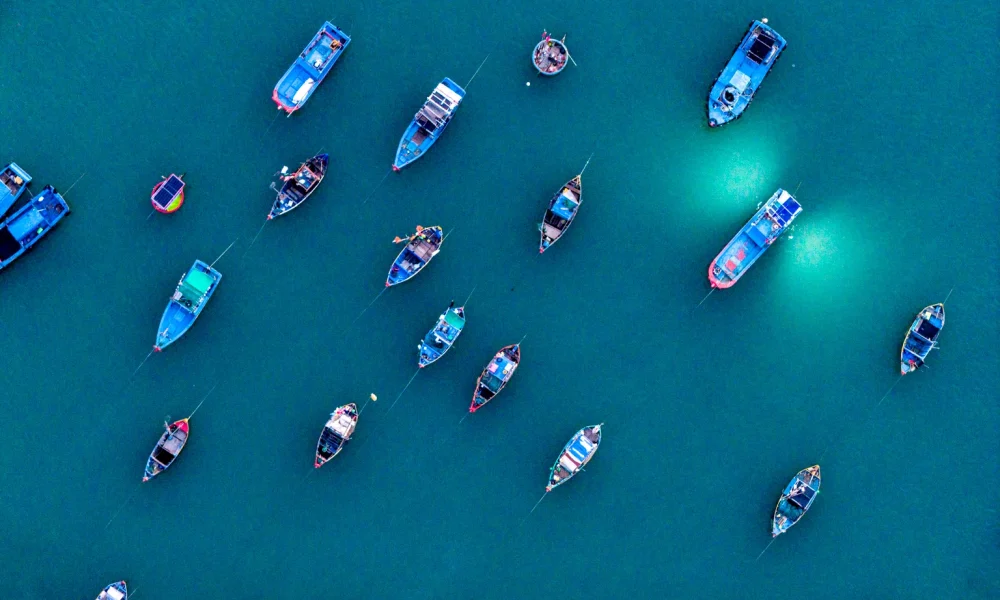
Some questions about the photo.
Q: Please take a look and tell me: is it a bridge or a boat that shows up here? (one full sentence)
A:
Of the two, only a boat appears.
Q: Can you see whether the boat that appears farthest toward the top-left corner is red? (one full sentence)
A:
No, the boat that appears farthest toward the top-left corner is blue.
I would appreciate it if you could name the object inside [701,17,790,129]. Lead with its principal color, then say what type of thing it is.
blue boat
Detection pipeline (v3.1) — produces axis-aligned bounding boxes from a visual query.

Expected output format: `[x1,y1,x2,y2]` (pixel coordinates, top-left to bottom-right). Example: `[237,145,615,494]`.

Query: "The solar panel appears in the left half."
[151,174,188,209]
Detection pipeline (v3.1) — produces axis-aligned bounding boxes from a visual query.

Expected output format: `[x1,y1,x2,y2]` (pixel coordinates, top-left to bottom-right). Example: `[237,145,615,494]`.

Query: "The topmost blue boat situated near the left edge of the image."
[0,163,32,222]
